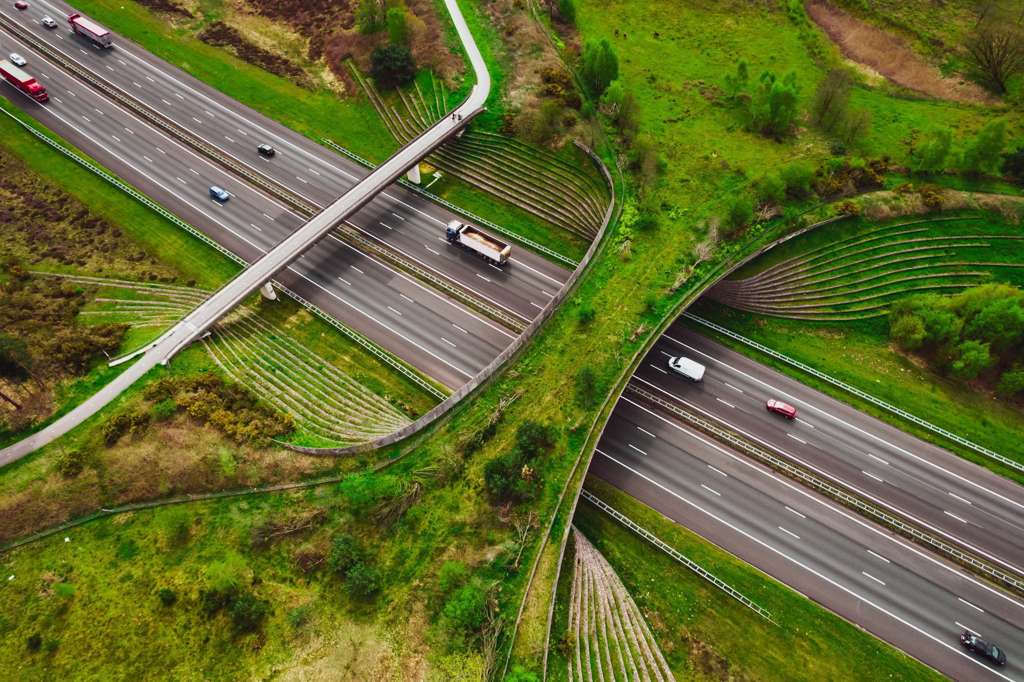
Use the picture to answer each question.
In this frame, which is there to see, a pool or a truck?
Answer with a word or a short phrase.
truck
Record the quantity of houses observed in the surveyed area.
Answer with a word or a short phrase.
0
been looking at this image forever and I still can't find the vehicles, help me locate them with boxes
[445,220,510,264]
[965,634,1013,670]
[257,145,275,157]
[0,60,50,102]
[41,18,56,27]
[7,55,23,67]
[209,187,230,203]
[672,360,710,384]
[767,402,797,422]
[15,1,28,10]
[68,15,115,48]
